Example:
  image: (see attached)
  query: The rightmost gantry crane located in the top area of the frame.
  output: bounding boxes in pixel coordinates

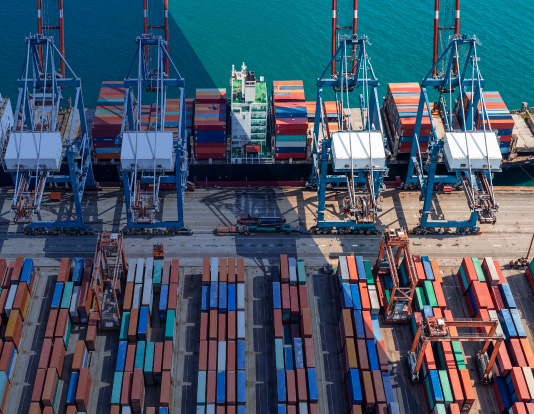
[400,0,504,232]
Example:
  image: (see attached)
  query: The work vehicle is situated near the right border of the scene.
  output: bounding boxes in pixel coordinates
[500,245,534,283]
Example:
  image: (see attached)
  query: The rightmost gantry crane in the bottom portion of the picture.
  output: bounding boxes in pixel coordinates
[408,313,505,382]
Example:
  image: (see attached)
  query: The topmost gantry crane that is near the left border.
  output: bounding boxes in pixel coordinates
[1,0,105,232]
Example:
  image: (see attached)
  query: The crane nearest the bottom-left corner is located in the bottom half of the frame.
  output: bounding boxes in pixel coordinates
[88,236,127,321]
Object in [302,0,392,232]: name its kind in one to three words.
container crane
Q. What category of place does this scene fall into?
port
